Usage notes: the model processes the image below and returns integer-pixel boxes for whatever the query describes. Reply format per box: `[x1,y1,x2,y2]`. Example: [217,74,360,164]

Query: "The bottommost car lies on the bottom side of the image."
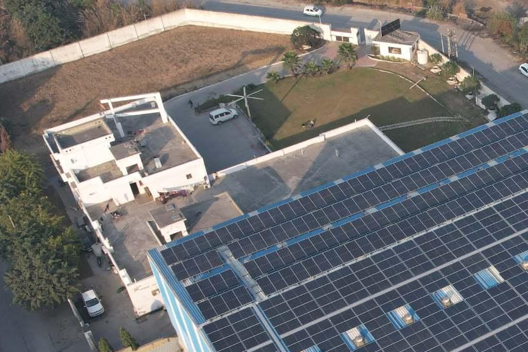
[80,285,104,314]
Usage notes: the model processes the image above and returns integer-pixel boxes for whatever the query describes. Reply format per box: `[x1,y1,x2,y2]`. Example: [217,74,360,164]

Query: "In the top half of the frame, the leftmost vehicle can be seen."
[207,105,241,125]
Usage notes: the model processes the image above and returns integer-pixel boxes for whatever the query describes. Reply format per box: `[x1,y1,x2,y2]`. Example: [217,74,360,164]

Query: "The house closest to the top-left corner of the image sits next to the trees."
[42,91,210,229]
